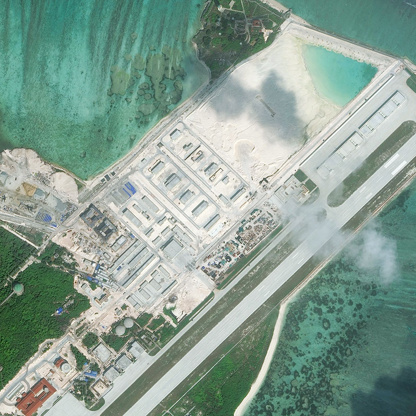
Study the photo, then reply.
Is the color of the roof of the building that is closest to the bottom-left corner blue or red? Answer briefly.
red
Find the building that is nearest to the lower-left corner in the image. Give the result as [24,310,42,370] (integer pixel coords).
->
[15,378,57,416]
